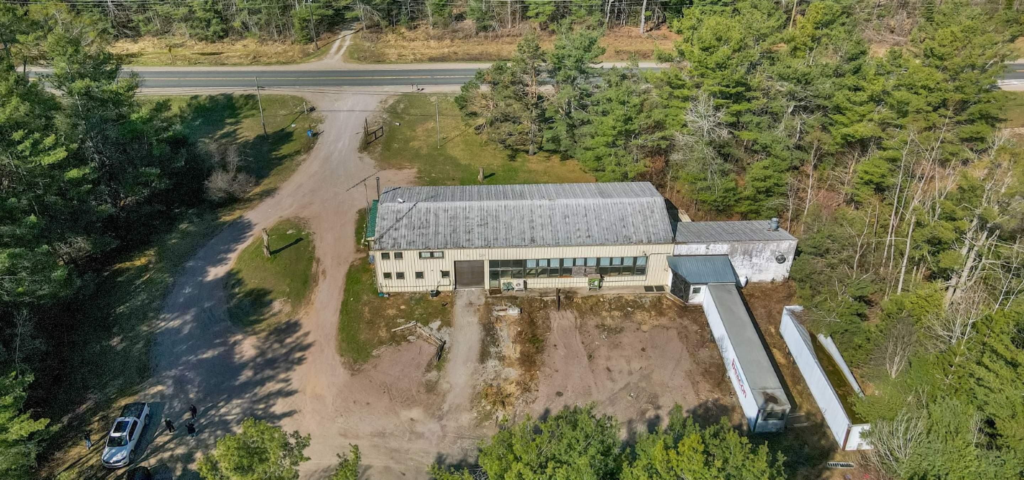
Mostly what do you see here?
trees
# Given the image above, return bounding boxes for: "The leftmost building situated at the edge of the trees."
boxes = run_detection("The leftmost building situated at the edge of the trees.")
[361,168,677,298]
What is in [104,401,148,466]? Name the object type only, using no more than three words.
truck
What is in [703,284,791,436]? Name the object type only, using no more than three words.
trailer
